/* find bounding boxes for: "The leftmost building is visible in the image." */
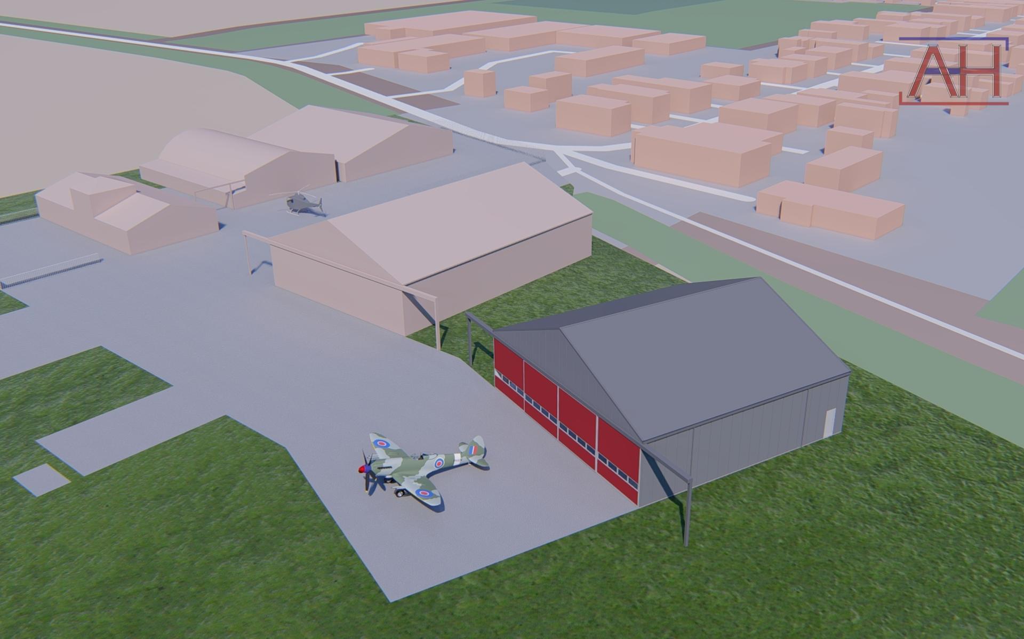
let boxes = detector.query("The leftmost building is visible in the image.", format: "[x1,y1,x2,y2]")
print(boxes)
[36,172,219,254]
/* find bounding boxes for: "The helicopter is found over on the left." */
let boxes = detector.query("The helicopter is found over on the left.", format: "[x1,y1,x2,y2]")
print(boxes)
[269,184,324,215]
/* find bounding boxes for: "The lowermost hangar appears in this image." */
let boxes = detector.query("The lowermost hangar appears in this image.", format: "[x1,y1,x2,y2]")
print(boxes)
[463,276,853,549]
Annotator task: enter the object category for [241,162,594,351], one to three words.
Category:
hangar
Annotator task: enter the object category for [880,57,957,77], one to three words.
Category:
house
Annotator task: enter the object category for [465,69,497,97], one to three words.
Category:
building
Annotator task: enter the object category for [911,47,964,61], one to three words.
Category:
house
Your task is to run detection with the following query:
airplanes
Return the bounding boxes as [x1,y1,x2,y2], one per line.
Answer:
[358,431,487,505]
